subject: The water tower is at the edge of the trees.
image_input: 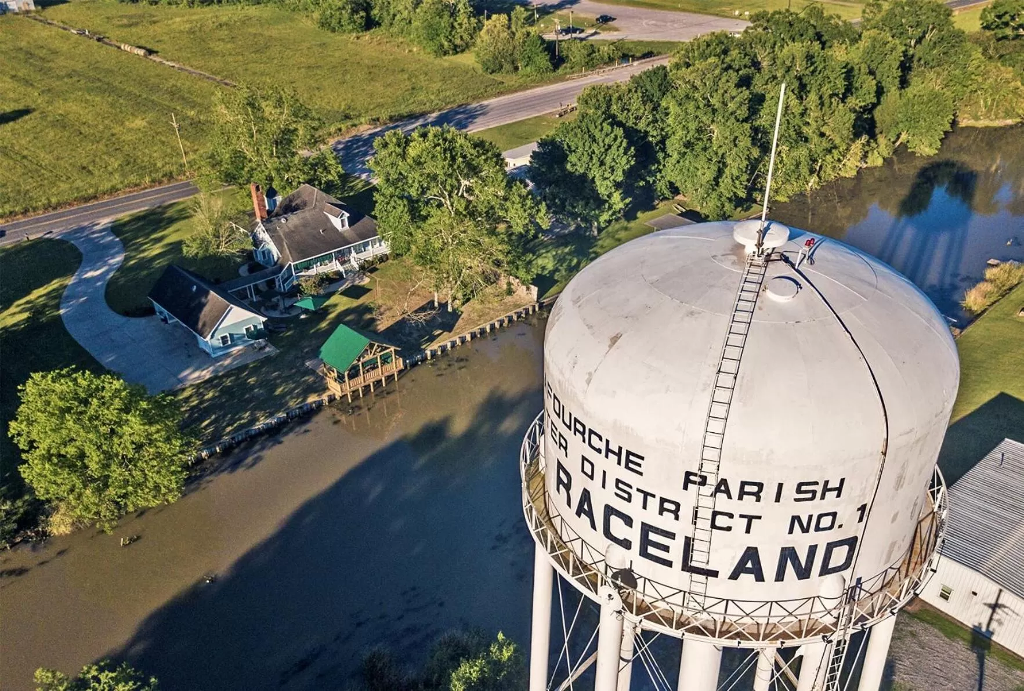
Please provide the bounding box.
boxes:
[518,83,956,691]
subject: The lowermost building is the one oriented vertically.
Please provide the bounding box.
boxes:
[918,424,1024,656]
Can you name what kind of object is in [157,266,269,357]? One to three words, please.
building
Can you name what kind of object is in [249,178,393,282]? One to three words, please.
house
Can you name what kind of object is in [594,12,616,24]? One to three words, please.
vehicle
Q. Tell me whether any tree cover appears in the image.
Yes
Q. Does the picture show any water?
Yes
